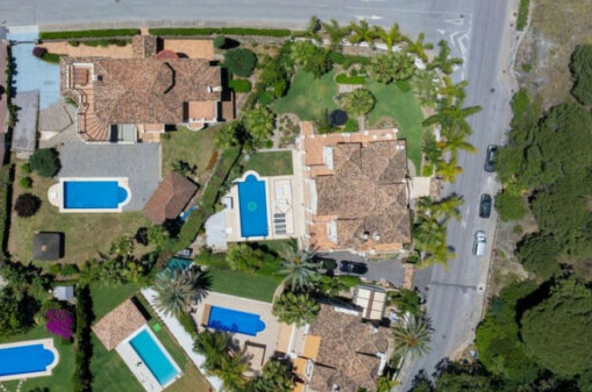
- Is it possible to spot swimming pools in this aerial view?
Yes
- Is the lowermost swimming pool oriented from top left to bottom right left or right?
left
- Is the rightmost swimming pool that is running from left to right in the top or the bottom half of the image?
bottom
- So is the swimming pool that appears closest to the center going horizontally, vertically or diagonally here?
vertically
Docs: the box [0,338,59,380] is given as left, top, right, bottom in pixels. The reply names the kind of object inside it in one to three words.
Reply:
swimming pool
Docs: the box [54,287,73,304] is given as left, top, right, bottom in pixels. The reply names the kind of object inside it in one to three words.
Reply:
shed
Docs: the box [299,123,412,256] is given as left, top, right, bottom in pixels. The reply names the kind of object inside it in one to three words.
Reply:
house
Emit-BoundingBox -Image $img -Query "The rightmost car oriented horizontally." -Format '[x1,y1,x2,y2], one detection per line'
[340,262,368,275]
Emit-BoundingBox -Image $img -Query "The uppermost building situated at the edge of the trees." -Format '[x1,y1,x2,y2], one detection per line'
[60,34,234,144]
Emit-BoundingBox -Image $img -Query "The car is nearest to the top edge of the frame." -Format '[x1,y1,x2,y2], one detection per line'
[482,144,498,172]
